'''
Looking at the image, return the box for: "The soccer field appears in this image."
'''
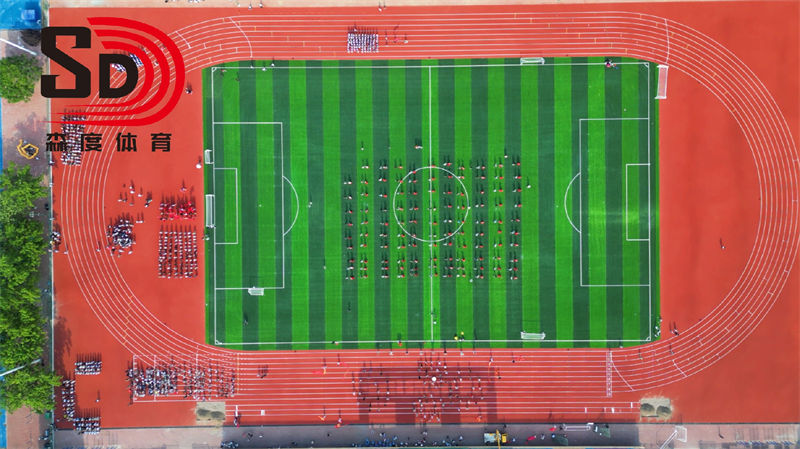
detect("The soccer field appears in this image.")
[202,56,661,351]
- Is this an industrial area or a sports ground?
sports ground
